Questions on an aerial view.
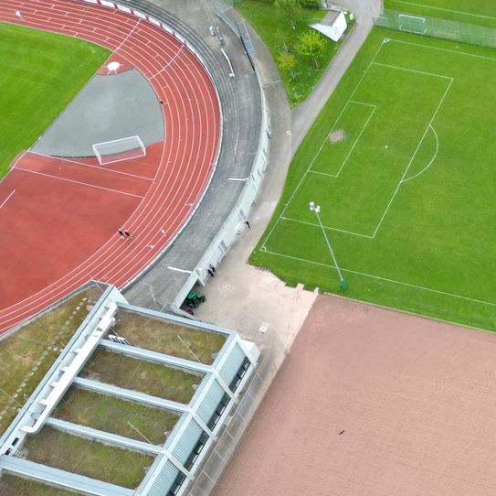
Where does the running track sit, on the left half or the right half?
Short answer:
left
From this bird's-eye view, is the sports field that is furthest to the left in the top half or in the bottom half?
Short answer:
top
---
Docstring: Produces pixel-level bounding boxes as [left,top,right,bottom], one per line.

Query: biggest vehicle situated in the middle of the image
[181,285,210,305]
